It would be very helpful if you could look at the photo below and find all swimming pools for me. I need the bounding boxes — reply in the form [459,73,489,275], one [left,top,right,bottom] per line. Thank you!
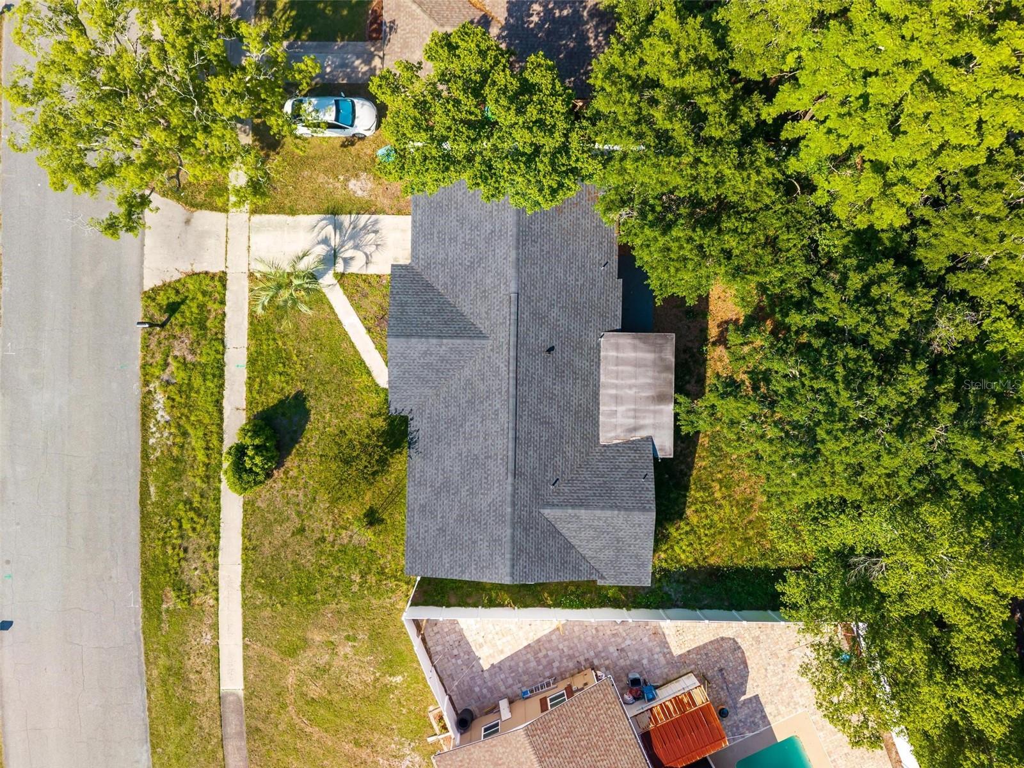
[708,711,835,768]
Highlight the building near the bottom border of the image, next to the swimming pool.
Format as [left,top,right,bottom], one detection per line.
[430,665,656,768]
